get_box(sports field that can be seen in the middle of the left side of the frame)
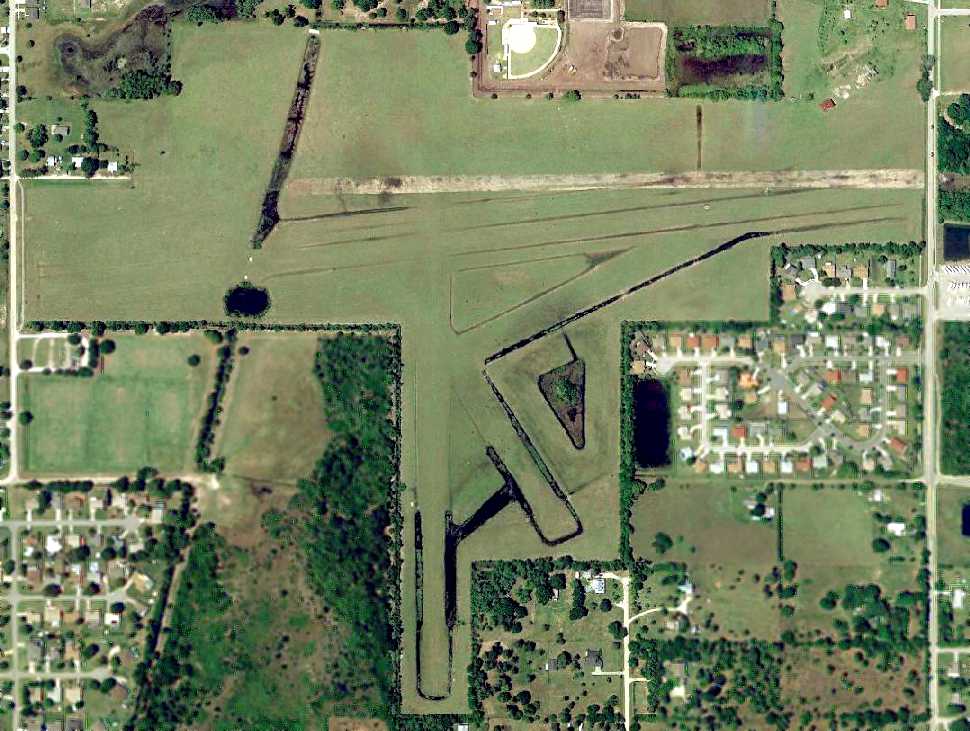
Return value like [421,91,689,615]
[18,336,211,474]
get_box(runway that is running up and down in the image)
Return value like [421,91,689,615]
[417,195,447,690]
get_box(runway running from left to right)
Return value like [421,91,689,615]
[284,169,924,194]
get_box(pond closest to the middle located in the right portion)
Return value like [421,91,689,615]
[636,379,670,468]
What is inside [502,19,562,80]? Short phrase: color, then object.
white baseball field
